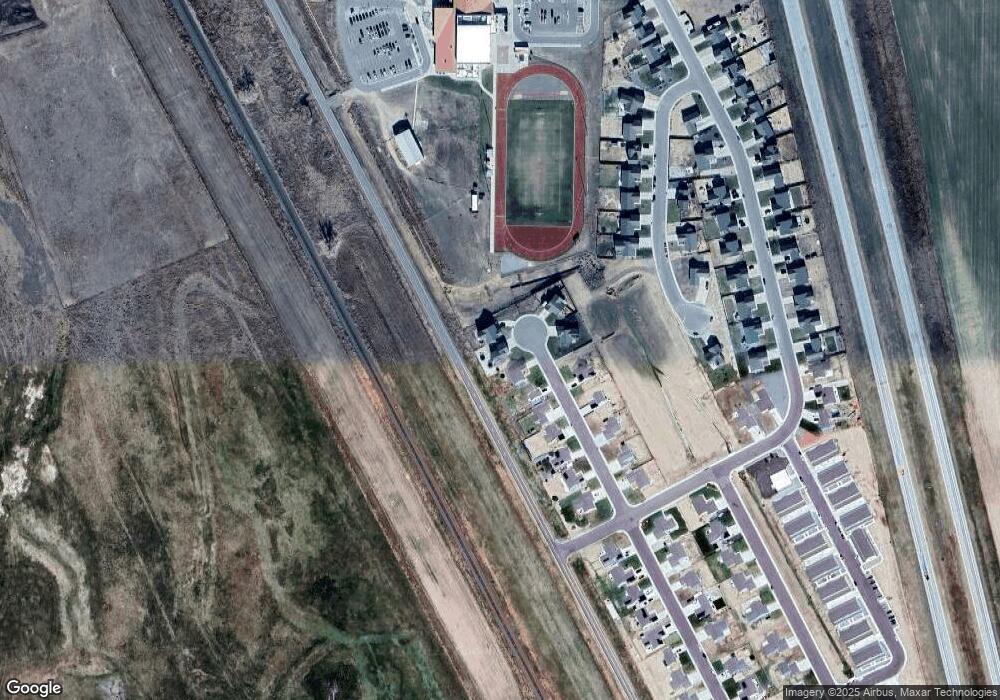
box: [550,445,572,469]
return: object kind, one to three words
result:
house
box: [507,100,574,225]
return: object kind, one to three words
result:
sports field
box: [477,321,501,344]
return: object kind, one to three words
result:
house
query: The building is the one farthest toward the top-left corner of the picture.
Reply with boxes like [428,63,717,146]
[395,129,423,164]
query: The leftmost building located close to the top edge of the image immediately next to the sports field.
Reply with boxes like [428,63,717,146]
[434,0,502,75]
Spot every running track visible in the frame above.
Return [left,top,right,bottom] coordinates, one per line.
[496,64,585,262]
